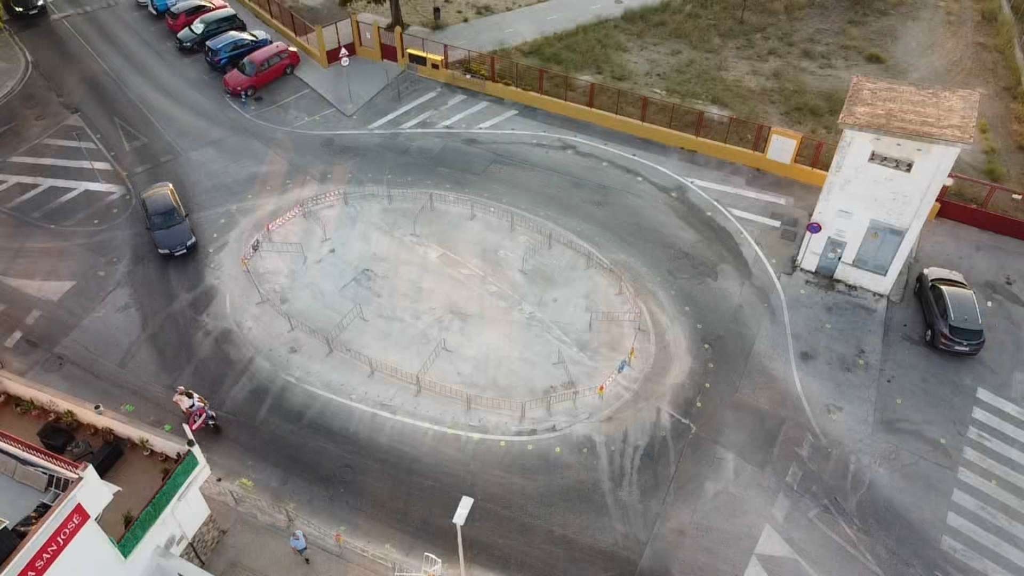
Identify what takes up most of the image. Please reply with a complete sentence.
The largest share of the image is taken up by paved ground.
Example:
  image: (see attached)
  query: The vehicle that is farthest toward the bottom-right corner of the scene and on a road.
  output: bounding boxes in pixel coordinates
[913,268,989,360]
